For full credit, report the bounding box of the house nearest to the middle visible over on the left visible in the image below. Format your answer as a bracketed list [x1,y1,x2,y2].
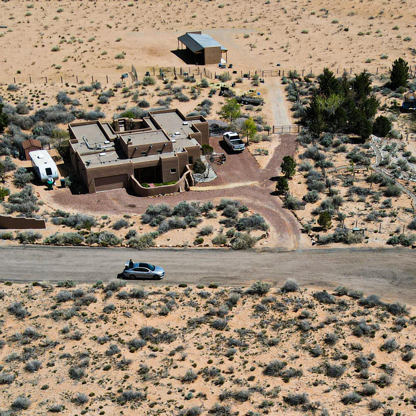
[69,109,209,195]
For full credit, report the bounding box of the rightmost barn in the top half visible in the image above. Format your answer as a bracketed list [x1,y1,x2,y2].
[177,28,228,65]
